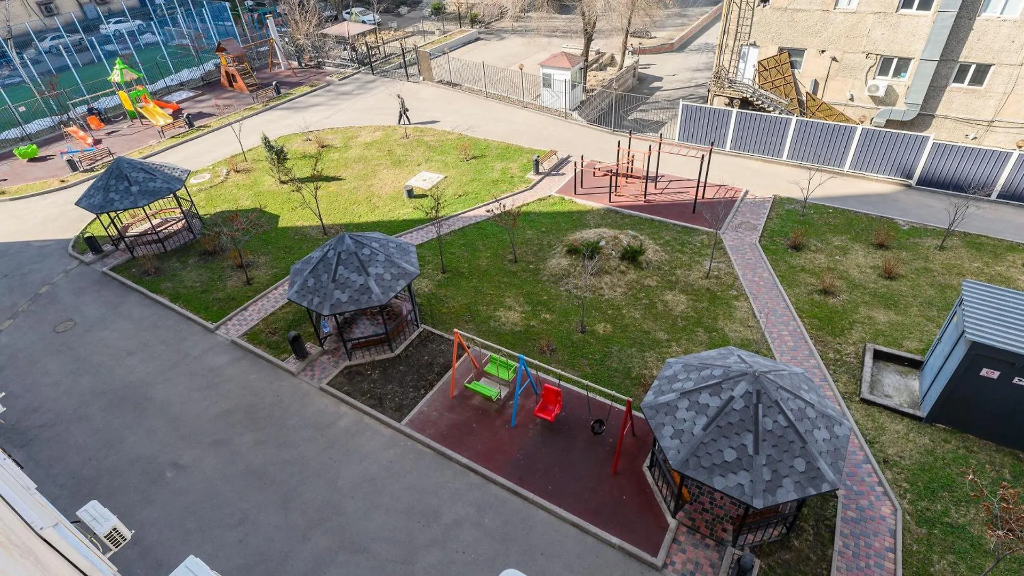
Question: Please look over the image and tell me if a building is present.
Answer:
Yes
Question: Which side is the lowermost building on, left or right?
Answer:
left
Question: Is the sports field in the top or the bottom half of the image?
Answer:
top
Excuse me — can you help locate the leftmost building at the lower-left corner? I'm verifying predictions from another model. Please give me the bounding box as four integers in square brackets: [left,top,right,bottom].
[0,452,117,576]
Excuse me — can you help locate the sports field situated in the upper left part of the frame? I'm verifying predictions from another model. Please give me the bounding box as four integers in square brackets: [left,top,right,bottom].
[0,43,240,129]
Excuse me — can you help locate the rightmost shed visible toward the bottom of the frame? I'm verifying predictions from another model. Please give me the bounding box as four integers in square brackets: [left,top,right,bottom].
[923,279,1024,449]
